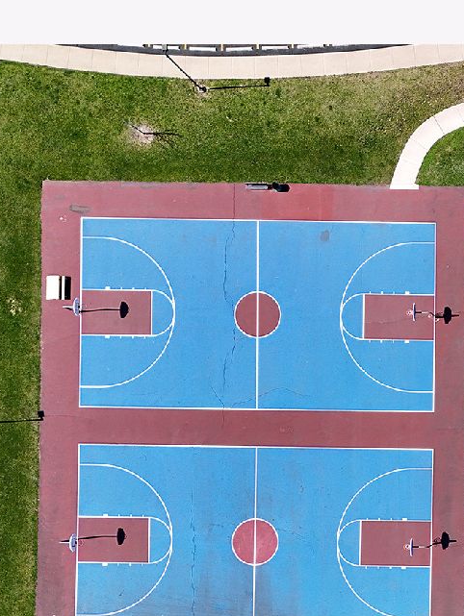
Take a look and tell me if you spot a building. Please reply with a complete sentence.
No, I can see no building in this picture.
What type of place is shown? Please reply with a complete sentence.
This image shows a sports ground.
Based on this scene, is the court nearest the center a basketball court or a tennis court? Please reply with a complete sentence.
It looks like the court nearest the center is a basketball court.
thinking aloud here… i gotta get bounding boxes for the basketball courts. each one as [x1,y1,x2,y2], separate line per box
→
[79,218,436,413]
[75,445,434,616]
